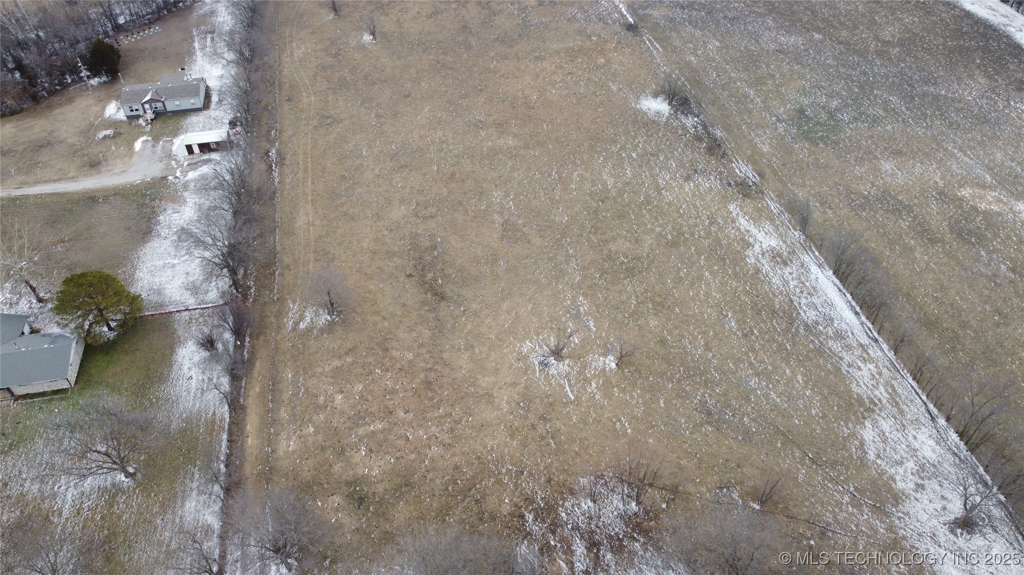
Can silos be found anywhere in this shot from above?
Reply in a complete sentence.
No, no silo can be seen from above.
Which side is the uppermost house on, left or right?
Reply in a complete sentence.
It is on the left.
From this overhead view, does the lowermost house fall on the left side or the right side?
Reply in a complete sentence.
The lowermost house appears in the left half of the scene.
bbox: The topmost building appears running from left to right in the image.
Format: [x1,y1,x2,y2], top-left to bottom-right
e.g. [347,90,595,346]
[120,75,213,122]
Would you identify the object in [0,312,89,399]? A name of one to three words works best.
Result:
house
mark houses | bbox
[120,75,213,122]
[0,312,89,399]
